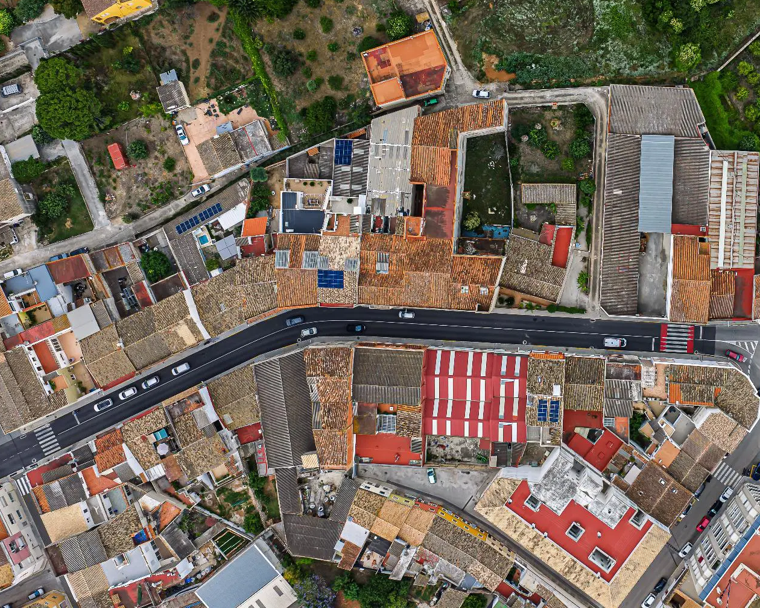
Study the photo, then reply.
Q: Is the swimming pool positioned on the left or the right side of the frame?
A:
left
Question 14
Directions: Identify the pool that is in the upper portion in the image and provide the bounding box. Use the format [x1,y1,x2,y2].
[192,225,215,245]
